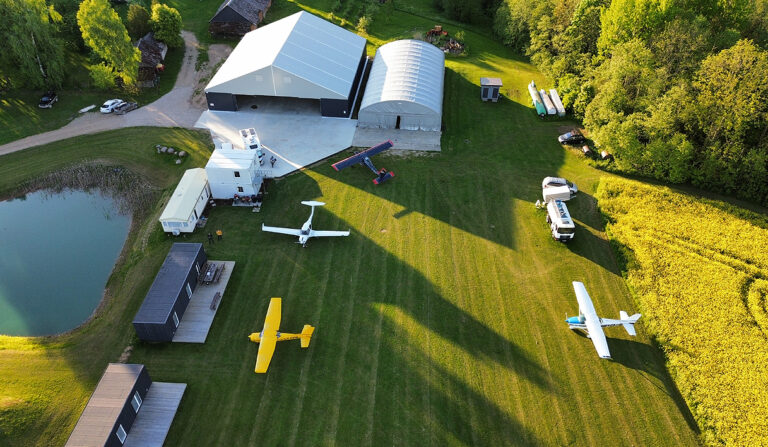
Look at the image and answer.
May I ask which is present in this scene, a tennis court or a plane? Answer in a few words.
plane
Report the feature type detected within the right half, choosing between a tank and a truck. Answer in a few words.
truck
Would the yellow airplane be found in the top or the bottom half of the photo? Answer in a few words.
bottom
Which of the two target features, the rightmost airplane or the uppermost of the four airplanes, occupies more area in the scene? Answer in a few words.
the rightmost airplane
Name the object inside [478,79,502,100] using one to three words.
shed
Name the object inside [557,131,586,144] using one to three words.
vehicle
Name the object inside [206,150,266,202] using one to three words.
house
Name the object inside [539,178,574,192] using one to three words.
vehicle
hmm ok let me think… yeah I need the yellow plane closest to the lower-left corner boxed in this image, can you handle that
[248,298,316,372]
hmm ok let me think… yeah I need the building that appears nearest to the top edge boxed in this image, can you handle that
[206,0,272,38]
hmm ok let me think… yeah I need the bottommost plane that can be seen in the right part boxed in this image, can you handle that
[565,283,643,357]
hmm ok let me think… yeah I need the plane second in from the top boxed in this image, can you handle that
[262,200,351,245]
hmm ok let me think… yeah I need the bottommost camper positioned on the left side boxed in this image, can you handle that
[241,129,262,164]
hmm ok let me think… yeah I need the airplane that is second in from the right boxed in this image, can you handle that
[330,141,397,182]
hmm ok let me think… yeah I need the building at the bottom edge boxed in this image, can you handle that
[66,363,184,447]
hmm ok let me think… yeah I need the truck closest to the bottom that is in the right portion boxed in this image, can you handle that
[544,198,578,246]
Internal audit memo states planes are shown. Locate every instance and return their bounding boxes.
[248,298,316,372]
[262,200,351,245]
[330,141,397,182]
[565,283,643,357]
